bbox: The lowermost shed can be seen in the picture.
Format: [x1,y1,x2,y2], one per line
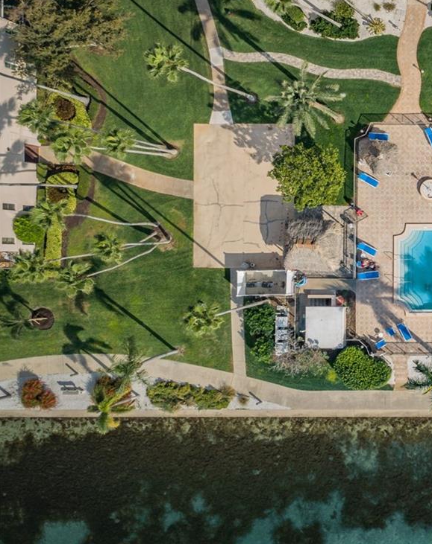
[306,308,350,347]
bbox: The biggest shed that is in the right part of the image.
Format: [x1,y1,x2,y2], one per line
[281,212,349,282]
